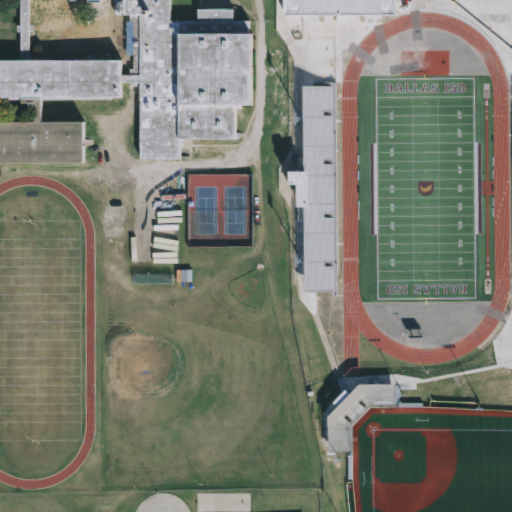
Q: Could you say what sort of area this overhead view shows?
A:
sports ground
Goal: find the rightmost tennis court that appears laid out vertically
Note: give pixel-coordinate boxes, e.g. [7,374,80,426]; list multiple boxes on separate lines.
[224,187,247,235]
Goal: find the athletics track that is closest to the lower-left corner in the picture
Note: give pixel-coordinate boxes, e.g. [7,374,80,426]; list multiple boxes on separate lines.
[0,176,95,489]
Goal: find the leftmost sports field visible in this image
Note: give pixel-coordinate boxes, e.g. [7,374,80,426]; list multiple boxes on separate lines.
[0,185,86,480]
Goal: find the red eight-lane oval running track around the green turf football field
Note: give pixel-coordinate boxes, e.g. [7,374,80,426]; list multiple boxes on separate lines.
[342,12,510,371]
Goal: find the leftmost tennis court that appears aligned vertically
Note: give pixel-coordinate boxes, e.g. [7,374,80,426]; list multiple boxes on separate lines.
[195,187,218,235]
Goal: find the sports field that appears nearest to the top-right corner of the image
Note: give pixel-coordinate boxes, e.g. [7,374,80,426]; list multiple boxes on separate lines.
[358,76,494,302]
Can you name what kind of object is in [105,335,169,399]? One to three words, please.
baseball field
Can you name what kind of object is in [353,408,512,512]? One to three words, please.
baseball field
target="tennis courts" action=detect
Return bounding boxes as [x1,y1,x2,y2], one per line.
[224,187,247,235]
[195,187,218,235]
